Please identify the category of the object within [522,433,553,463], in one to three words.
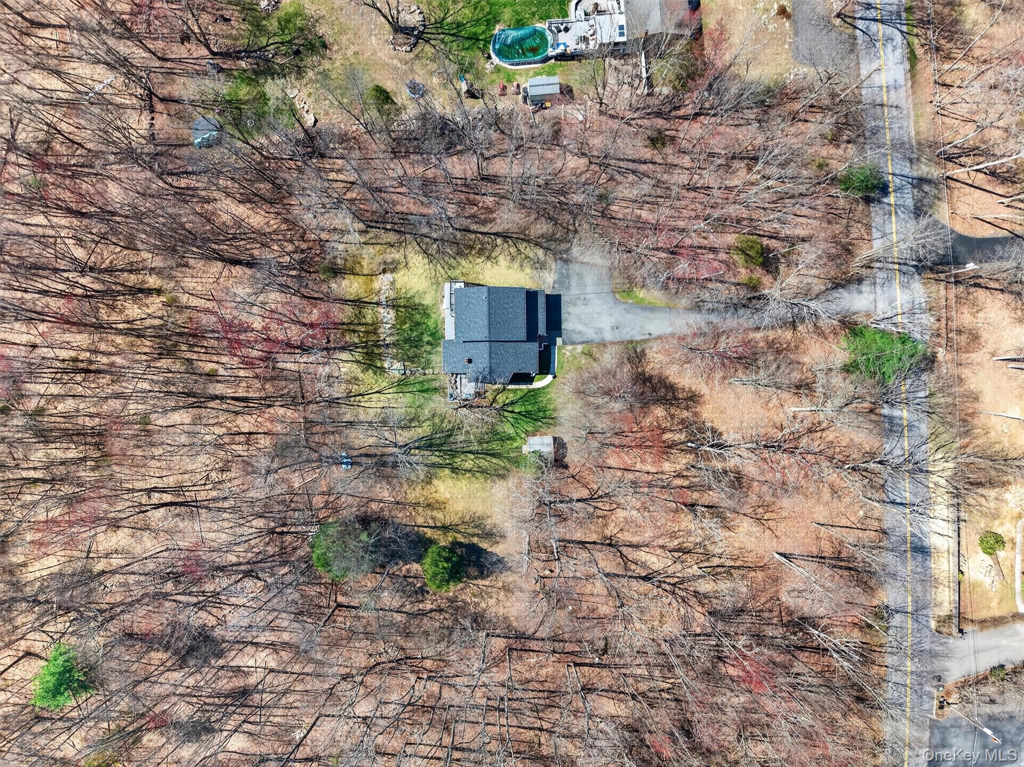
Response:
shed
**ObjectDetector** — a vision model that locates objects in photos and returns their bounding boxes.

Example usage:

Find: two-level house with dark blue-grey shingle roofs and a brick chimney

[441,280,551,402]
